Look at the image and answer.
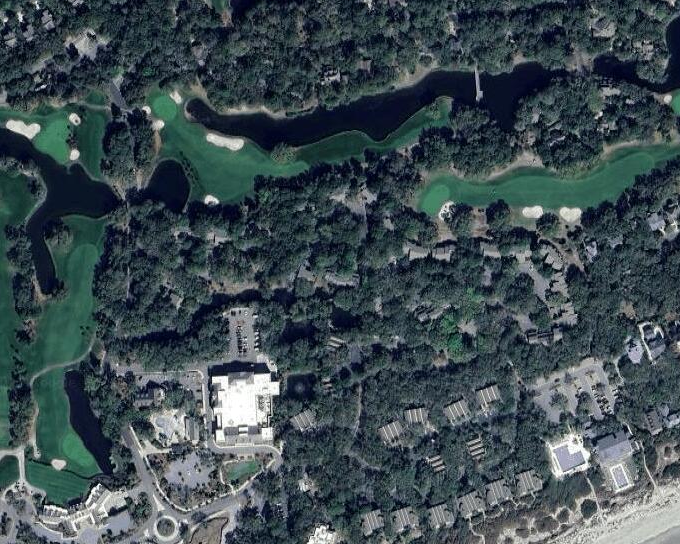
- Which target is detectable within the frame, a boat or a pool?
pool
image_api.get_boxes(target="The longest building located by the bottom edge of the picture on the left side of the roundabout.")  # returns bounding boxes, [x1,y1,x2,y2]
[39,483,114,534]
